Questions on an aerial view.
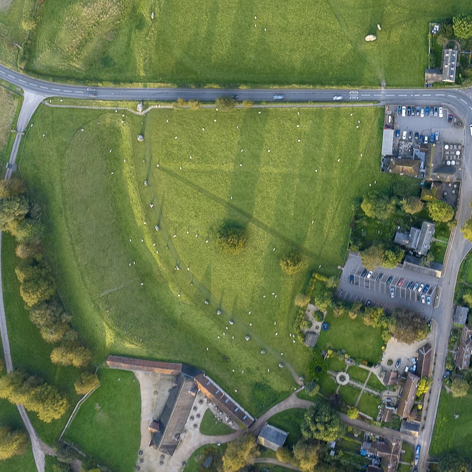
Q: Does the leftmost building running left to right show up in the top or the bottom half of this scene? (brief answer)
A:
bottom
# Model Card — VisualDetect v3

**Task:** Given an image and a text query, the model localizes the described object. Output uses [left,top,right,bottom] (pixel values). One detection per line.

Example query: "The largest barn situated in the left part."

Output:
[149,374,200,454]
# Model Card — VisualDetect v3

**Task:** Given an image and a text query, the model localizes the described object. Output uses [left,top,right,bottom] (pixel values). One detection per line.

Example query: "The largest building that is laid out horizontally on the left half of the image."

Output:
[105,353,183,375]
